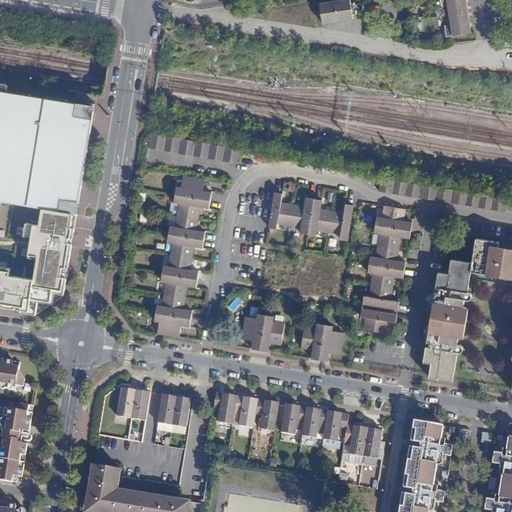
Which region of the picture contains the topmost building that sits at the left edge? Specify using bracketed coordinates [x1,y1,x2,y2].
[0,92,94,212]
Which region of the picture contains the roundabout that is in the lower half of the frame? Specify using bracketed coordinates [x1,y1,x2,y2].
[58,317,105,370]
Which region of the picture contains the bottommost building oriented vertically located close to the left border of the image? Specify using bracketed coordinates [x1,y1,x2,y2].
[0,402,36,486]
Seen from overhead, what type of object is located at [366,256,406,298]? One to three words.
house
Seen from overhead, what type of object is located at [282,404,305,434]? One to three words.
house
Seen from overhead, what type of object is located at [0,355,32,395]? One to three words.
building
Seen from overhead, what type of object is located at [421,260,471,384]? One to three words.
building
